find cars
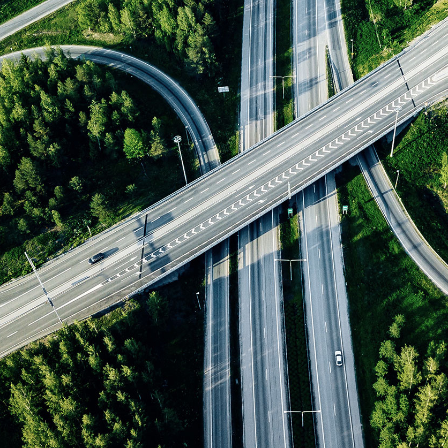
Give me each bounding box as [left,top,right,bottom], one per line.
[333,350,343,367]
[86,250,103,264]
